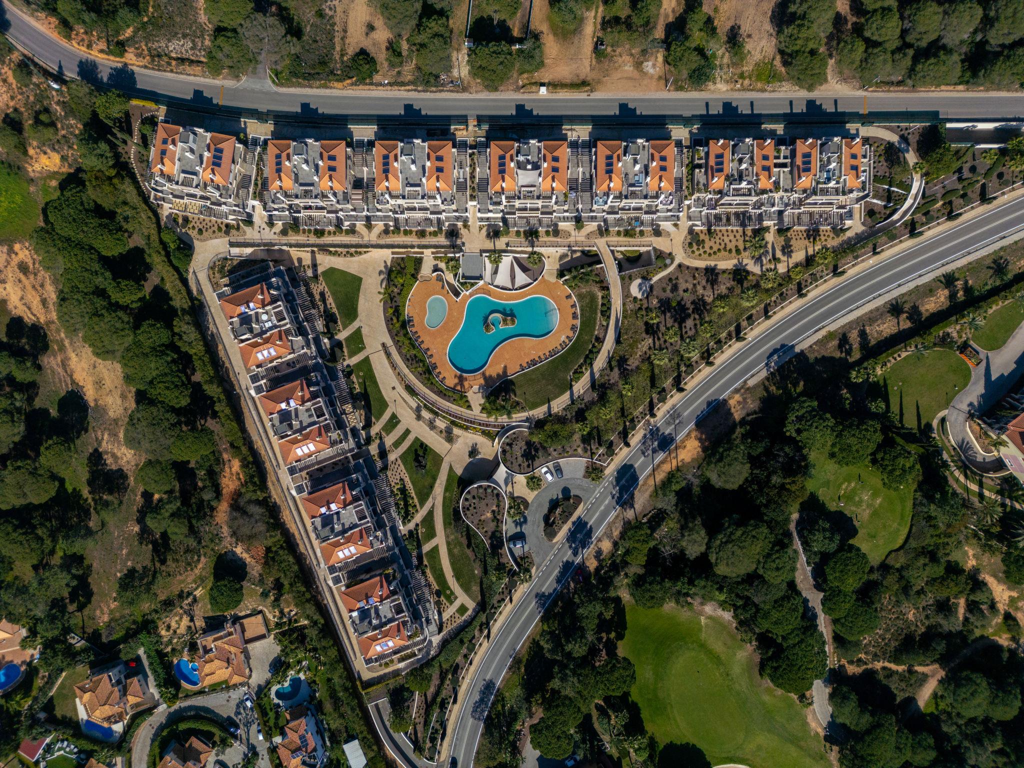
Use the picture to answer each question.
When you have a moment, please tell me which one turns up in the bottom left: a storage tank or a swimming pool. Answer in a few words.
swimming pool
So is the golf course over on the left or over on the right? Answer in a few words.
right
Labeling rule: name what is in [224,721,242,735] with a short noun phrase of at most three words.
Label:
car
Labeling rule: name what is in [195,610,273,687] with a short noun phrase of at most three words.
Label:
house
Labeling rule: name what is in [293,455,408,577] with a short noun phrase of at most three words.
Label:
building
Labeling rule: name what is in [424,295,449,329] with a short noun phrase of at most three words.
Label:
swimming pool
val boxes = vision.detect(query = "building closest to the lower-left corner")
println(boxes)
[18,732,54,761]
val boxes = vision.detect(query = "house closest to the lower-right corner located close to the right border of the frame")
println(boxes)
[986,407,1024,483]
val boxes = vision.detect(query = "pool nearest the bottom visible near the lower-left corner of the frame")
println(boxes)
[84,718,114,739]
